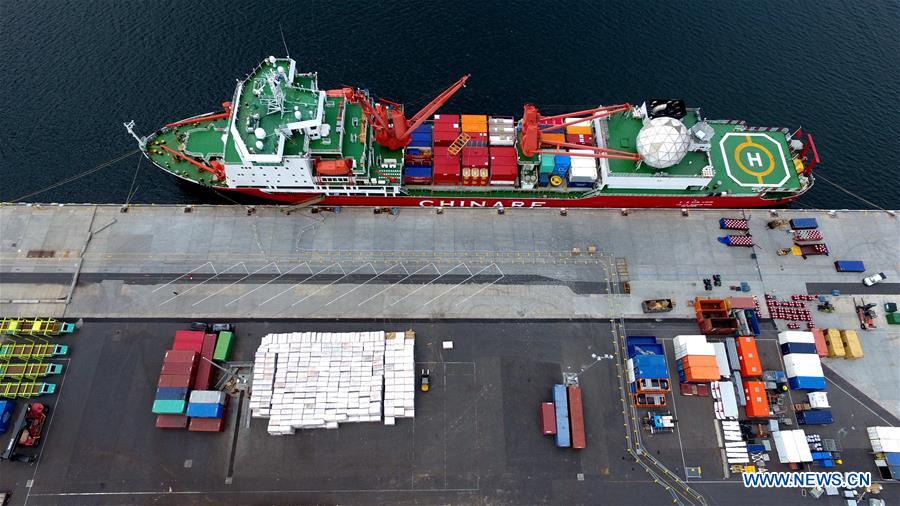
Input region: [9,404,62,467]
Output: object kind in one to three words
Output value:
work vehicle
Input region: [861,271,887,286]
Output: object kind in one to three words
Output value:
vehicle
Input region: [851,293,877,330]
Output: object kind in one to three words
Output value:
work vehicle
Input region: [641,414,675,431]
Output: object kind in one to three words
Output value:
vehicle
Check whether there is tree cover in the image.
No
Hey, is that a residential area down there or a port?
port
